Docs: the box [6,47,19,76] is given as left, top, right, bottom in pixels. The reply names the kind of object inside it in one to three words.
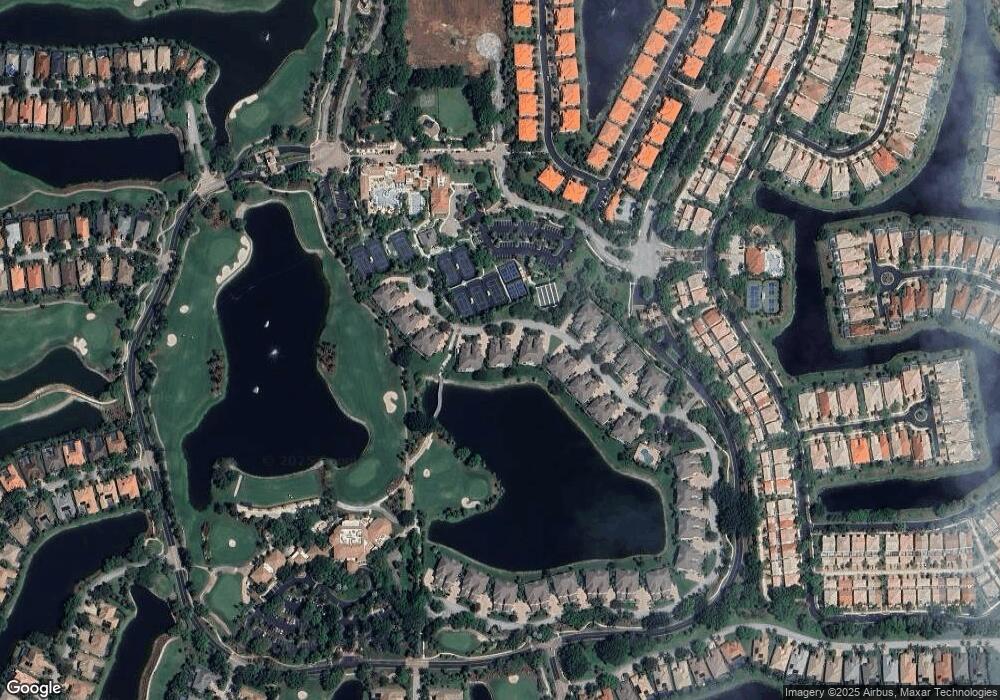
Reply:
house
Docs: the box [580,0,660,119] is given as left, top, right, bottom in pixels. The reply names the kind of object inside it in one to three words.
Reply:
pond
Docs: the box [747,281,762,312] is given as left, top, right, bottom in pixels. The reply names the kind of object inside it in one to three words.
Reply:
tennis court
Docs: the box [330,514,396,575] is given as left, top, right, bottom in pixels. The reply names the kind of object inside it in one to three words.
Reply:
building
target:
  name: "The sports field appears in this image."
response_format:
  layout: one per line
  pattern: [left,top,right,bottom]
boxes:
[438,86,476,138]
